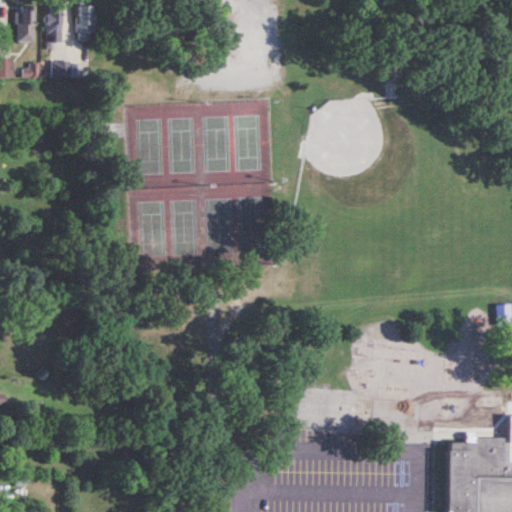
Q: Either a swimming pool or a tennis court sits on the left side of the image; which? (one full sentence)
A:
Looking on the left side of the image, you will find a tennis court.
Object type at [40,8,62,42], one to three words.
house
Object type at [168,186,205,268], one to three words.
tennis court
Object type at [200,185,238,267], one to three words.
tennis court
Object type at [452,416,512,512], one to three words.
building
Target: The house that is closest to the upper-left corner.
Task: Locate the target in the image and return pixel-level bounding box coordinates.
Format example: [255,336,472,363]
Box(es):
[17,4,36,44]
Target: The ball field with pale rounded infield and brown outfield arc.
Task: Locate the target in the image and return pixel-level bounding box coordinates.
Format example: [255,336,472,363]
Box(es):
[276,88,512,302]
